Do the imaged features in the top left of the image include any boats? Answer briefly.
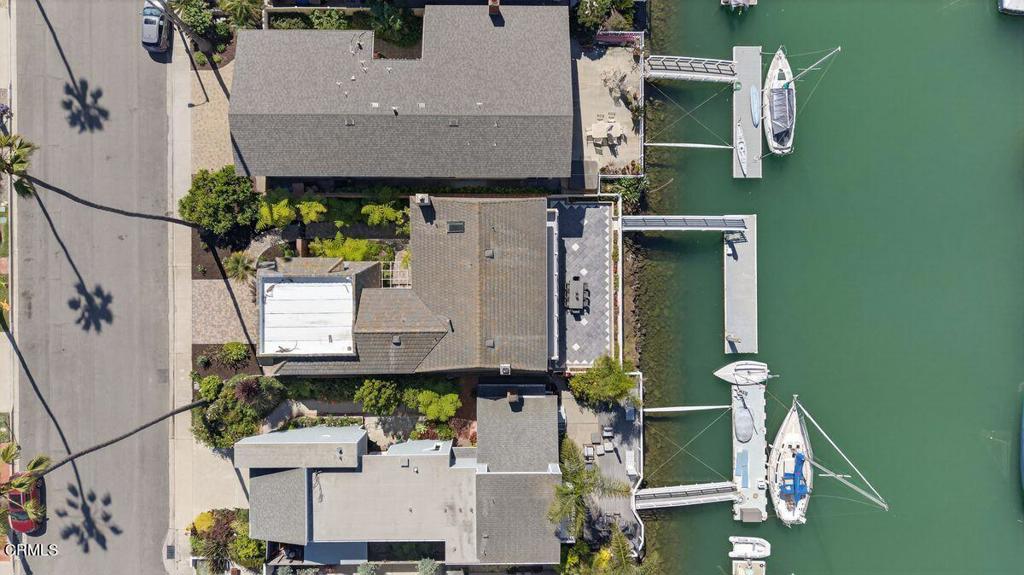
No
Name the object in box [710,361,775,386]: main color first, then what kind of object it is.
white boat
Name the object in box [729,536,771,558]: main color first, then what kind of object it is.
white boat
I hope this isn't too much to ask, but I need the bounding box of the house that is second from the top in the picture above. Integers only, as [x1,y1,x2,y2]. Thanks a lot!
[253,192,558,376]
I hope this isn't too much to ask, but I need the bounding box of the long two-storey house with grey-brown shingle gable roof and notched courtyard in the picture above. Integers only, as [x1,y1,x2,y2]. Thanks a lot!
[228,0,574,181]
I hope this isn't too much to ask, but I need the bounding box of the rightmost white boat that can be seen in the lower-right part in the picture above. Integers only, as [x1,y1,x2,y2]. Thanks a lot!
[765,397,888,525]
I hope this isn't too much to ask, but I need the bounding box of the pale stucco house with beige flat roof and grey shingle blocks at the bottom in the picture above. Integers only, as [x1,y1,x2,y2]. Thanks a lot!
[235,379,571,566]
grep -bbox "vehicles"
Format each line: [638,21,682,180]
[5,469,42,534]
[138,0,173,53]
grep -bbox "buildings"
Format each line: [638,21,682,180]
[228,0,574,181]
[253,192,558,376]
[235,379,571,566]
